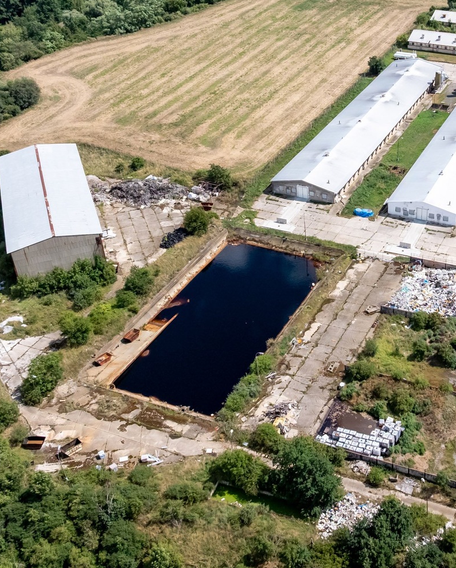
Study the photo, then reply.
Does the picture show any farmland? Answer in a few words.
Yes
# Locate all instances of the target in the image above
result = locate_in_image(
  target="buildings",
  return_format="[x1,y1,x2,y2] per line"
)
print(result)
[430,10,456,28]
[0,144,109,290]
[387,110,456,225]
[409,29,456,54]
[271,59,444,202]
